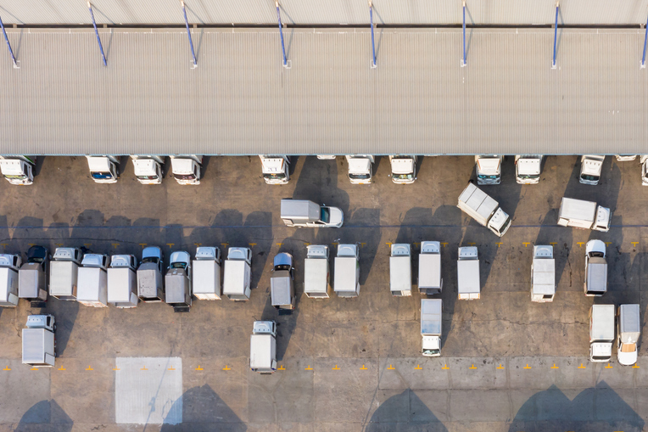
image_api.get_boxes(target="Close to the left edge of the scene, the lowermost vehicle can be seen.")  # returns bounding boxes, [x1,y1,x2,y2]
[20,313,60,369]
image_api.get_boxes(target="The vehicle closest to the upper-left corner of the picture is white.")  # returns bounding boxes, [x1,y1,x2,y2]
[0,156,34,186]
